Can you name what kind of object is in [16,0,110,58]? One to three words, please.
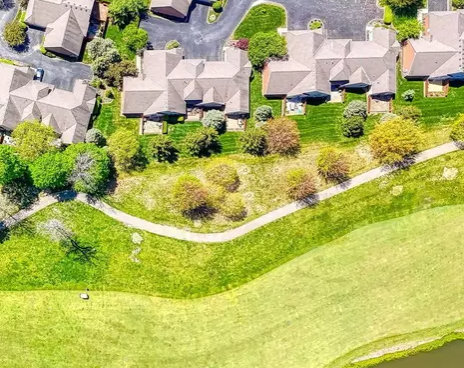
house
